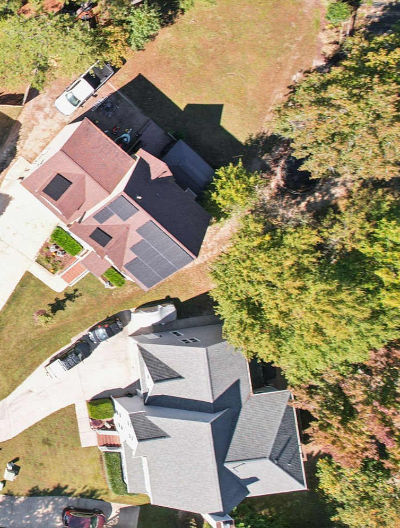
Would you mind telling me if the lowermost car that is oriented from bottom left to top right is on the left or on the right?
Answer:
left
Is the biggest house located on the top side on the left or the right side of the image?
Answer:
left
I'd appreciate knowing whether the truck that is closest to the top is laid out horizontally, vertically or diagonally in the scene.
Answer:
diagonally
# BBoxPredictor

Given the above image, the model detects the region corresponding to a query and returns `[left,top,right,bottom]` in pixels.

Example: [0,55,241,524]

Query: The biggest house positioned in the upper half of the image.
[13,116,211,292]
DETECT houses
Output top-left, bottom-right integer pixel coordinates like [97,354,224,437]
[97,329,307,528]
[13,116,211,292]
